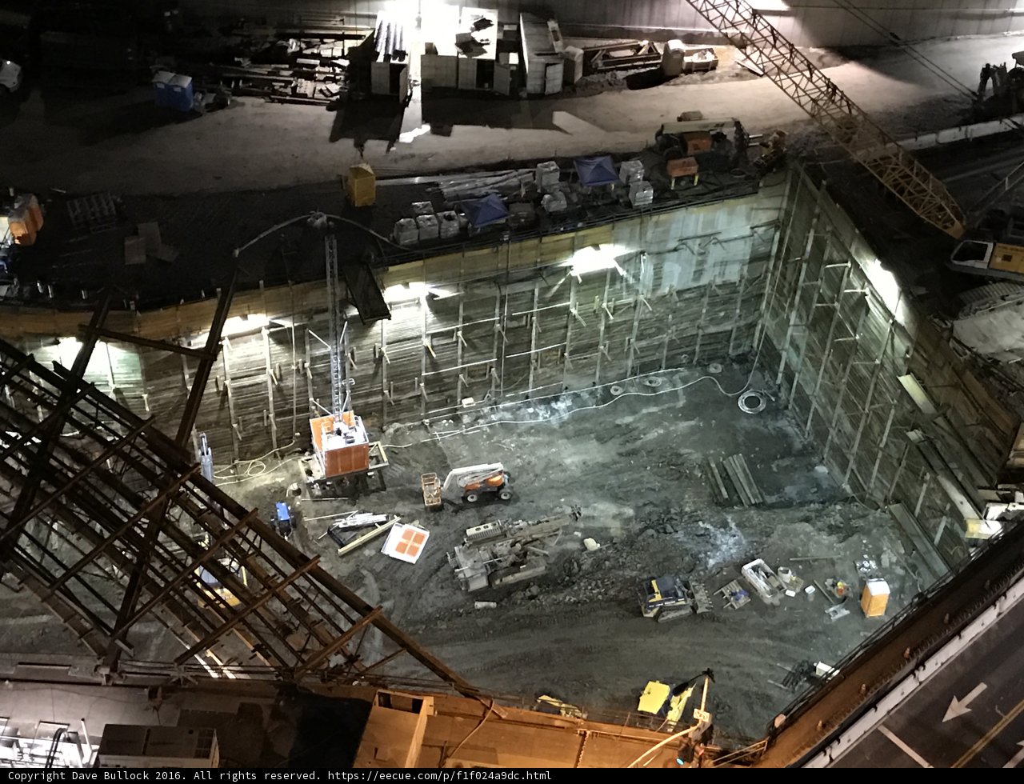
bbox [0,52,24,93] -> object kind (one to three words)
truck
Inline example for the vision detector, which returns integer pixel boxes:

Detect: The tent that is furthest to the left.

[462,198,510,254]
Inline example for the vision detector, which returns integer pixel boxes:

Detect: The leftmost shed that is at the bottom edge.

[355,690,440,784]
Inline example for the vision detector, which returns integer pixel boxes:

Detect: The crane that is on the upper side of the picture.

[683,0,1024,329]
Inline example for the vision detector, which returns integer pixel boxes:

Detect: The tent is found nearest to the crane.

[572,156,619,208]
